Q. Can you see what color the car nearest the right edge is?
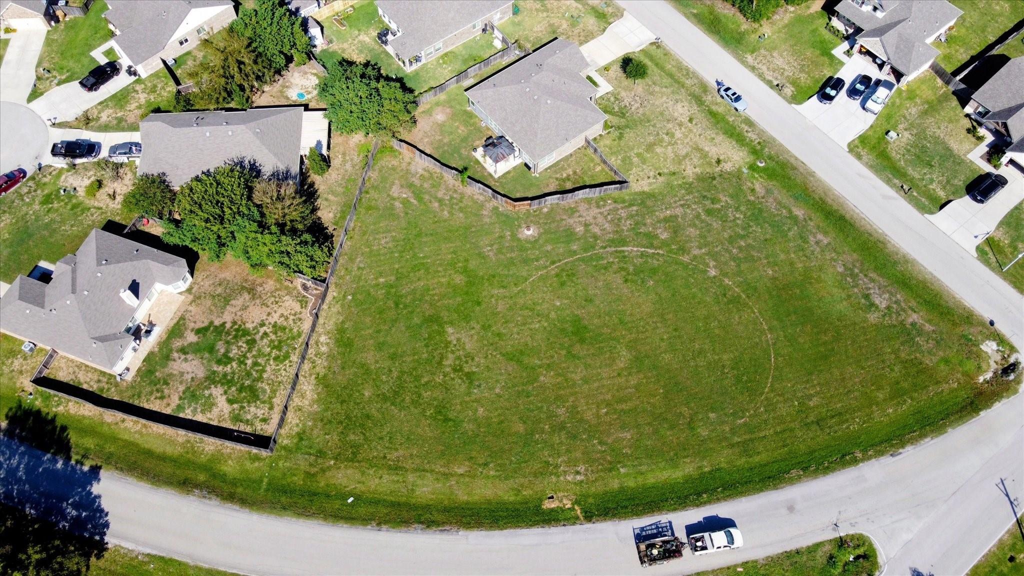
black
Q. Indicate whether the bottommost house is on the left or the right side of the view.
left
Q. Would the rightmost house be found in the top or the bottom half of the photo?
top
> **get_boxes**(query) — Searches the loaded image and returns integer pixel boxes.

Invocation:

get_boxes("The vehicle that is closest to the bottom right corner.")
[685,526,747,557]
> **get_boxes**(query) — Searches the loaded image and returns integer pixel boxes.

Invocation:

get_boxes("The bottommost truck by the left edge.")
[0,167,31,194]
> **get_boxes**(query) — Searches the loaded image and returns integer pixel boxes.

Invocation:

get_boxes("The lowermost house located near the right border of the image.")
[964,53,1024,183]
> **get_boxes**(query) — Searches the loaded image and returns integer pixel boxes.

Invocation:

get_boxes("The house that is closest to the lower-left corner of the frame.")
[0,228,193,374]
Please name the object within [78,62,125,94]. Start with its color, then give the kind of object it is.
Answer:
black truck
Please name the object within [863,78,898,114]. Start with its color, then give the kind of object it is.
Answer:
white truck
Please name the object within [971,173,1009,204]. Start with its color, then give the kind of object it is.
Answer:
black car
